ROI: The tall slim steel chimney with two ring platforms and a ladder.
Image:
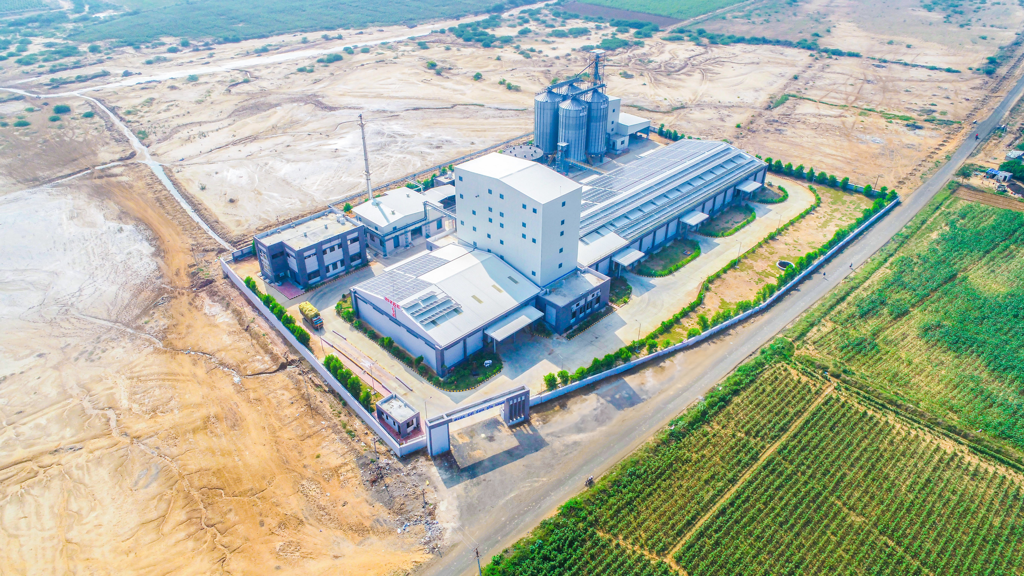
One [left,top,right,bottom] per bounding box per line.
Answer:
[356,110,374,200]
